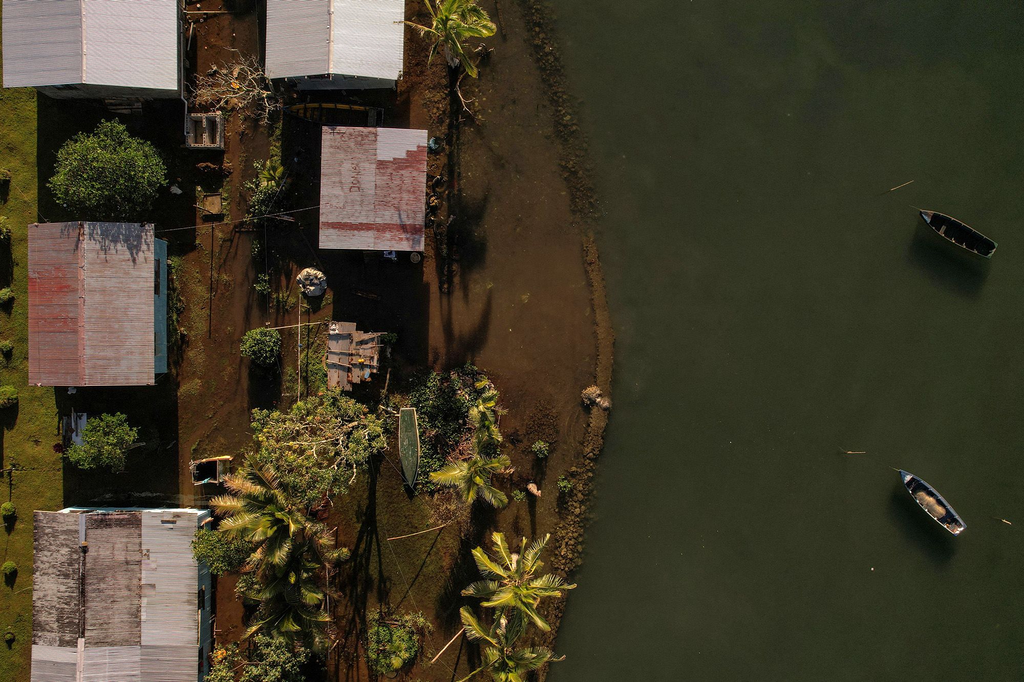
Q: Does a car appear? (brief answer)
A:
No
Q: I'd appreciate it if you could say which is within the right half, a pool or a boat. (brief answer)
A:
boat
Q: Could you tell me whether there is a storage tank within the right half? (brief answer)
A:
No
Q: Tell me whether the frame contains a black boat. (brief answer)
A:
Yes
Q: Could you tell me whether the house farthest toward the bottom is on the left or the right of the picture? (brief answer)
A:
left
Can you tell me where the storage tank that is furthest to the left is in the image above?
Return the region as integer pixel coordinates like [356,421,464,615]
[185,113,228,150]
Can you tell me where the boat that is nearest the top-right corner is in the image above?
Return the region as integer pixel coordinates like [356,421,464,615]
[915,209,998,258]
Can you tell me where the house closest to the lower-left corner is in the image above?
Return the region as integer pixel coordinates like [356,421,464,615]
[32,507,209,682]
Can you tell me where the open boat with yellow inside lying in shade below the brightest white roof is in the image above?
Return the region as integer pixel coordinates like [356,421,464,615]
[284,99,385,128]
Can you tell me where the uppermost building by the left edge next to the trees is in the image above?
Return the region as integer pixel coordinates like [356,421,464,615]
[3,0,194,136]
